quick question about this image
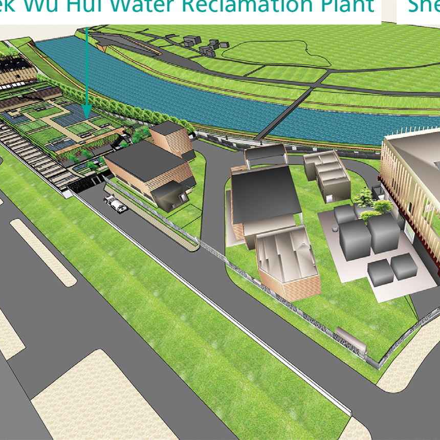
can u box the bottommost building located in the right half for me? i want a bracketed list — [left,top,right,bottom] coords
[254,224,321,302]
